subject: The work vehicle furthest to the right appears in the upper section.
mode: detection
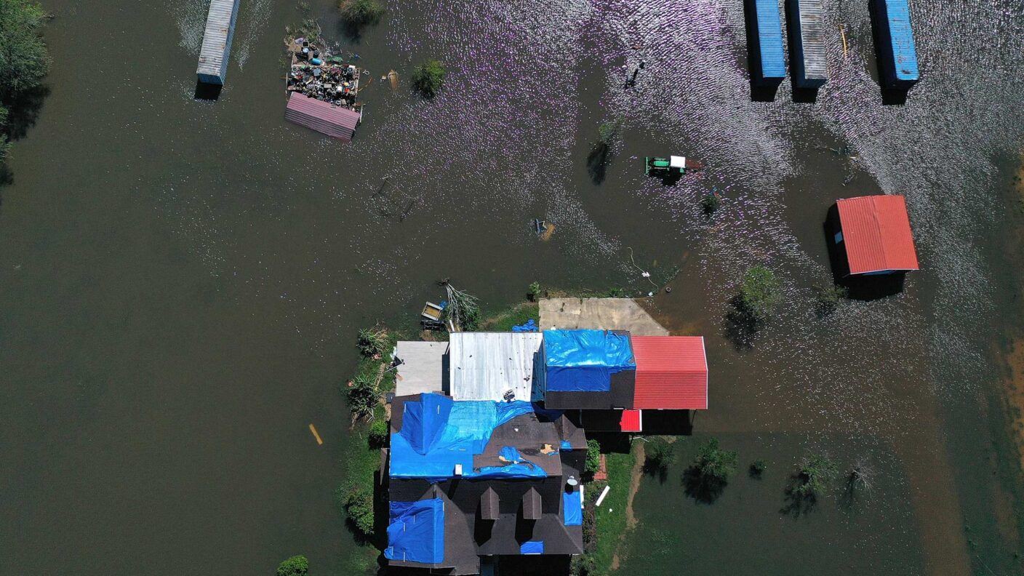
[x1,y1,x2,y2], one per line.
[644,156,684,176]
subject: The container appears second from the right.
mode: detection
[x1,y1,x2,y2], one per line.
[789,0,827,90]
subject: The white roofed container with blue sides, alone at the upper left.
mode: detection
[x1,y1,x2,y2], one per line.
[197,0,239,87]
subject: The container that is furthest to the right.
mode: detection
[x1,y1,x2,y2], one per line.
[873,0,919,91]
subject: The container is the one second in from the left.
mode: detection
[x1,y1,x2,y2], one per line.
[747,0,786,88]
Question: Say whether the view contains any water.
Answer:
Yes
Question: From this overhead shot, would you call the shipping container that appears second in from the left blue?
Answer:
Yes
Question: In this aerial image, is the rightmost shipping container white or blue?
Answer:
blue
